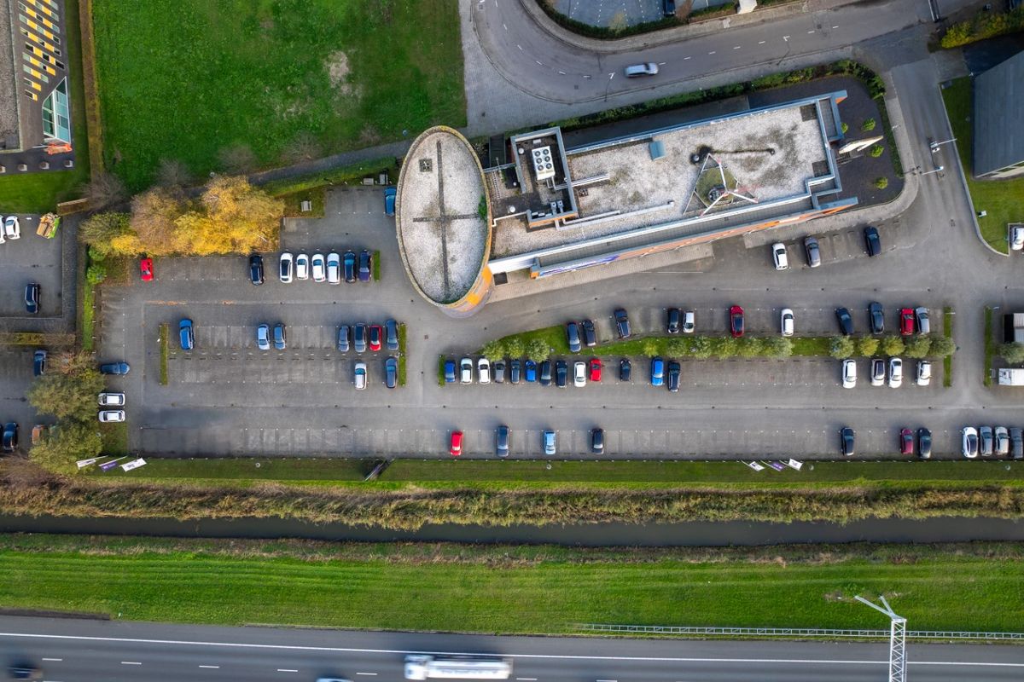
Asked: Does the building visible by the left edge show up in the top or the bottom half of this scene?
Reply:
top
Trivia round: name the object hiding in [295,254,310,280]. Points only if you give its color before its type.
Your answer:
white car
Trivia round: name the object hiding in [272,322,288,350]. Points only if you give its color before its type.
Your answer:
blue car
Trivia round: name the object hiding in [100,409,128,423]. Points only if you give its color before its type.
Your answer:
white car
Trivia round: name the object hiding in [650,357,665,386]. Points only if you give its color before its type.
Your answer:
blue car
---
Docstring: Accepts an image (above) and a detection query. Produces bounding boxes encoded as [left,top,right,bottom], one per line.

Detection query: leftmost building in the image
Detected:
[0,0,71,152]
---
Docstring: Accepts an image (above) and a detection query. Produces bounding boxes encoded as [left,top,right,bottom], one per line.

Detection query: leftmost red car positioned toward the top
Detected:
[140,258,156,281]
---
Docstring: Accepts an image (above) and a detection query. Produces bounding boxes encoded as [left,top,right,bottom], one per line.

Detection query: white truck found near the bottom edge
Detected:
[405,652,512,679]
